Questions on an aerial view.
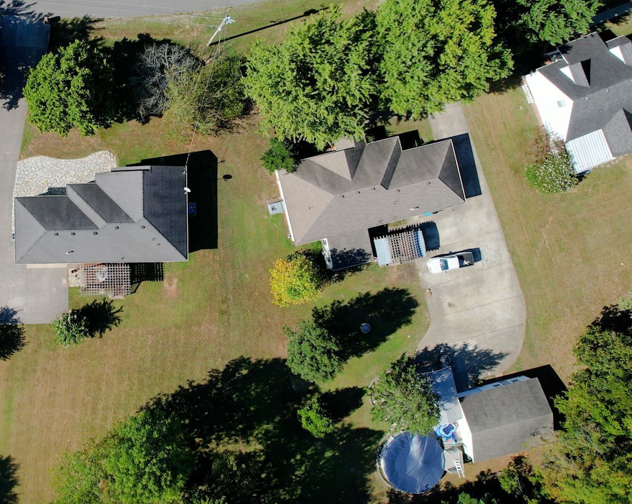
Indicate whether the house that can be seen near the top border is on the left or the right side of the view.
right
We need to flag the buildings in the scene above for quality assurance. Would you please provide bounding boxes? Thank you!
[456,374,554,464]
[14,166,190,264]
[521,20,632,173]
[277,129,466,271]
